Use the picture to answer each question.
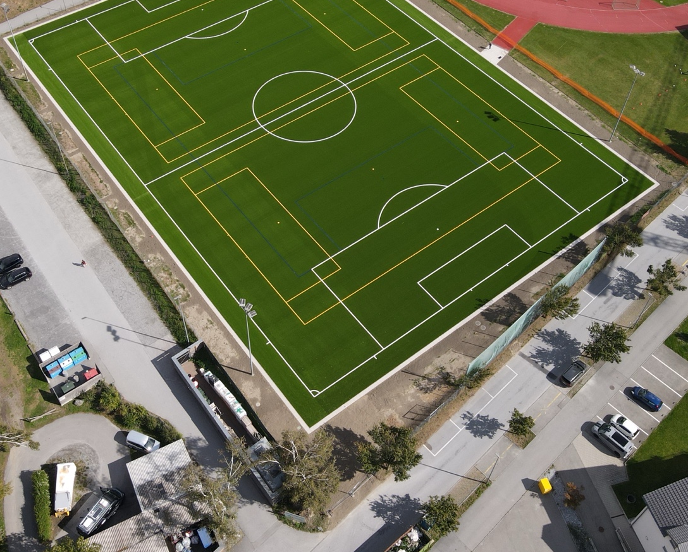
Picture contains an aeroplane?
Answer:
No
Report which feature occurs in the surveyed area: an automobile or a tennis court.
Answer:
automobile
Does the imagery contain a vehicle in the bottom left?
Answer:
Yes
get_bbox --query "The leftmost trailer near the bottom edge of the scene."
[55,458,78,526]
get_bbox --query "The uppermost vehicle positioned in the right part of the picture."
[559,357,589,390]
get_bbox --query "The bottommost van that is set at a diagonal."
[79,488,127,537]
